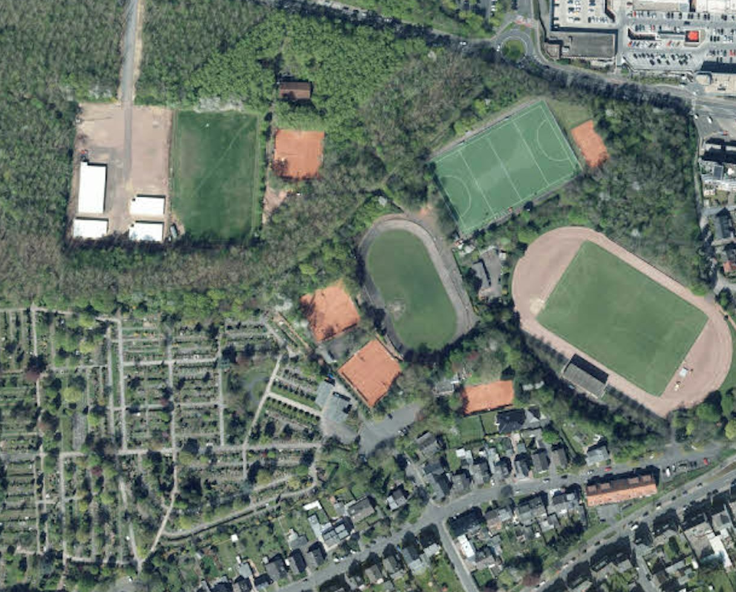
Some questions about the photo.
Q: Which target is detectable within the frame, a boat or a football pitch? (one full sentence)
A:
It is a football pitch that can be seen here.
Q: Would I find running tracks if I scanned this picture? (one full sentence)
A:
Yes, the photo shows a running track.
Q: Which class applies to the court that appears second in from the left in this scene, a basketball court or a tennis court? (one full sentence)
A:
In the photo, the court that appears second in from the left shows up as a tennis court.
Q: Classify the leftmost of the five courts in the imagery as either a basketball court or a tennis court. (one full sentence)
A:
From above, the leftmost of the five courts can be identified as a tennis court.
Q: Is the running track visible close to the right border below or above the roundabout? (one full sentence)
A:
Within the scene, the running track visible close to the right border can be found below the roundabout.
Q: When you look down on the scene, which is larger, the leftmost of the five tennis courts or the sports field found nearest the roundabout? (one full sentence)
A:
The sports field is bigger than the tennis court.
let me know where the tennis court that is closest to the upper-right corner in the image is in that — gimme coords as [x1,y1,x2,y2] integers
[573,121,607,167]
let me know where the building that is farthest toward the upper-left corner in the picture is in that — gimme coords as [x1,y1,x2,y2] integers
[78,162,106,214]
